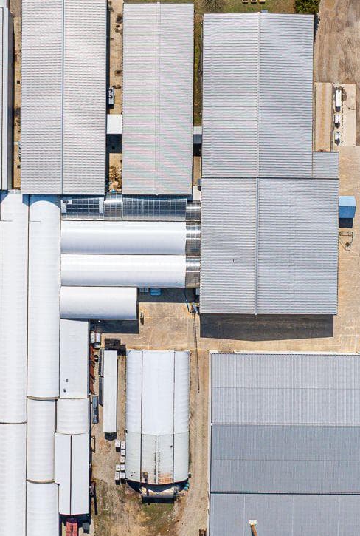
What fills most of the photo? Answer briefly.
buildings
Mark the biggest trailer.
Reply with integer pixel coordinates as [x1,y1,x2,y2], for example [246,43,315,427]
[104,349,117,433]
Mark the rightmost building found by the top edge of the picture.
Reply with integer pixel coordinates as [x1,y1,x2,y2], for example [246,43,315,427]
[202,12,338,177]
